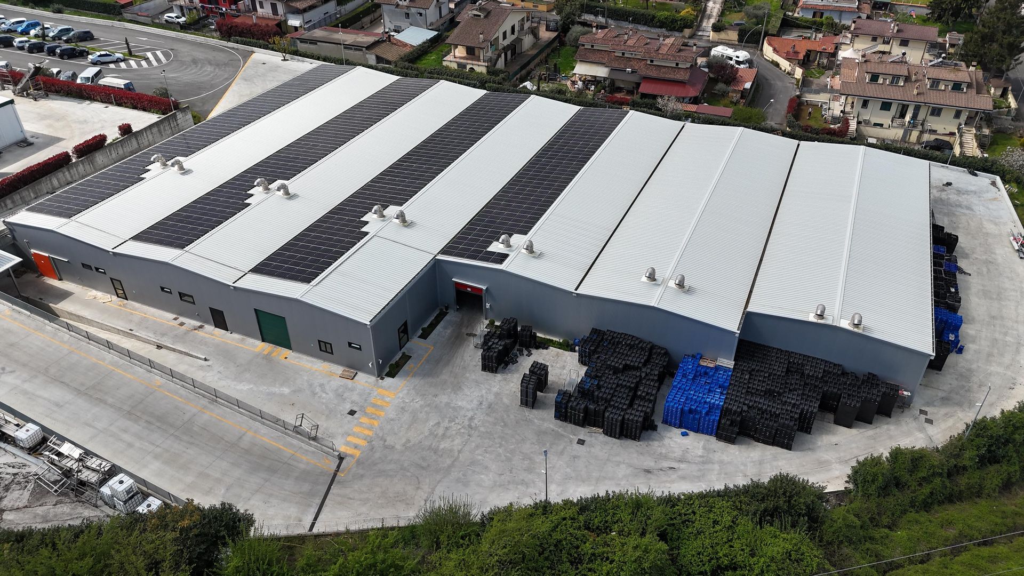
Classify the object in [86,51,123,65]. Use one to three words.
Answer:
car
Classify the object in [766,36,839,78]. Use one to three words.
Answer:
house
